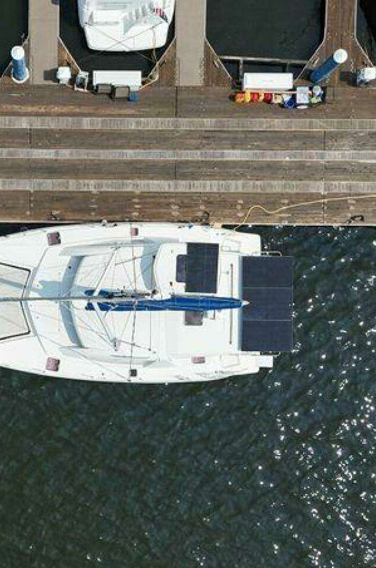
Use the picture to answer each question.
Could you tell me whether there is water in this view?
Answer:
Yes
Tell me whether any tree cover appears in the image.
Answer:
No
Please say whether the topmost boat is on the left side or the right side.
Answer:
left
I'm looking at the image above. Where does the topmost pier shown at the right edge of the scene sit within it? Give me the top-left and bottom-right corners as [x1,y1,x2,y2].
[293,0,376,87]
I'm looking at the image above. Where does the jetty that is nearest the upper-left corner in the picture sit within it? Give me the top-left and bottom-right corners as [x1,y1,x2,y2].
[0,0,77,85]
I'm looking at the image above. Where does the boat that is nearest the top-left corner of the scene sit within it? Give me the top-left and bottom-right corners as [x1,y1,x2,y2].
[78,0,174,52]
